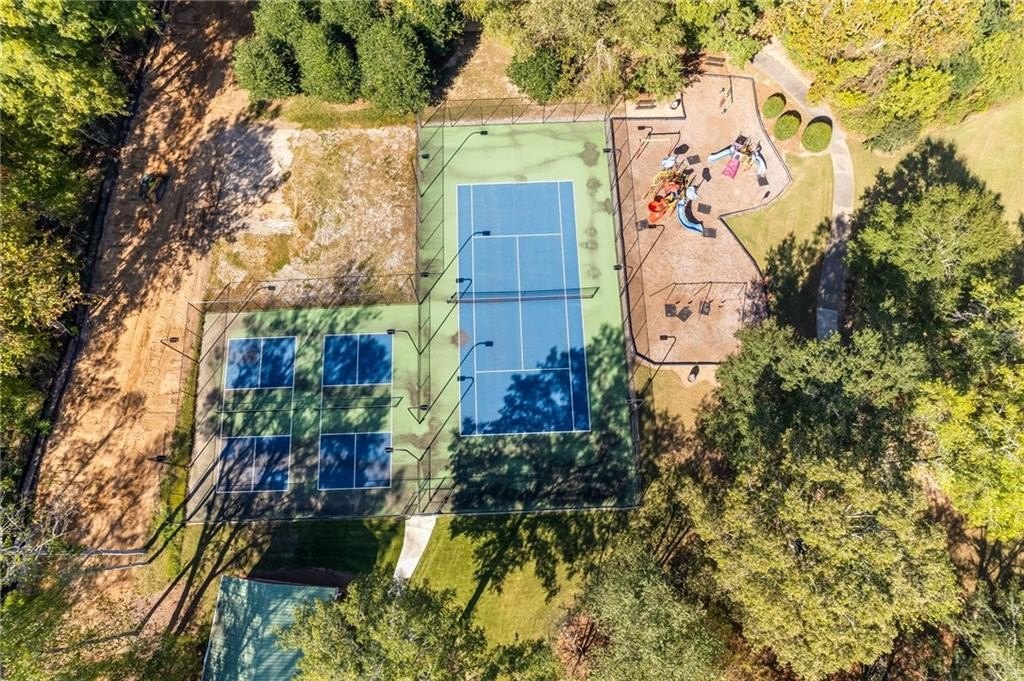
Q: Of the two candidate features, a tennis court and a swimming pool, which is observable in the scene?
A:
tennis court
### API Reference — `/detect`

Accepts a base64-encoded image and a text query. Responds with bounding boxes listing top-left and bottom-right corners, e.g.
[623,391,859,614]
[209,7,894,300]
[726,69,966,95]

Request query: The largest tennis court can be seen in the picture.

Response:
[420,120,640,514]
